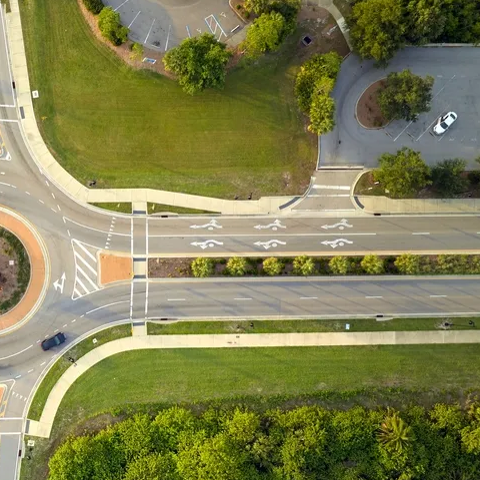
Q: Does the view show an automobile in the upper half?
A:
Yes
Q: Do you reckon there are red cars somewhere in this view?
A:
No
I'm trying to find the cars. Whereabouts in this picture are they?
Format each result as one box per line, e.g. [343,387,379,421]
[431,109,459,136]
[41,332,66,351]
